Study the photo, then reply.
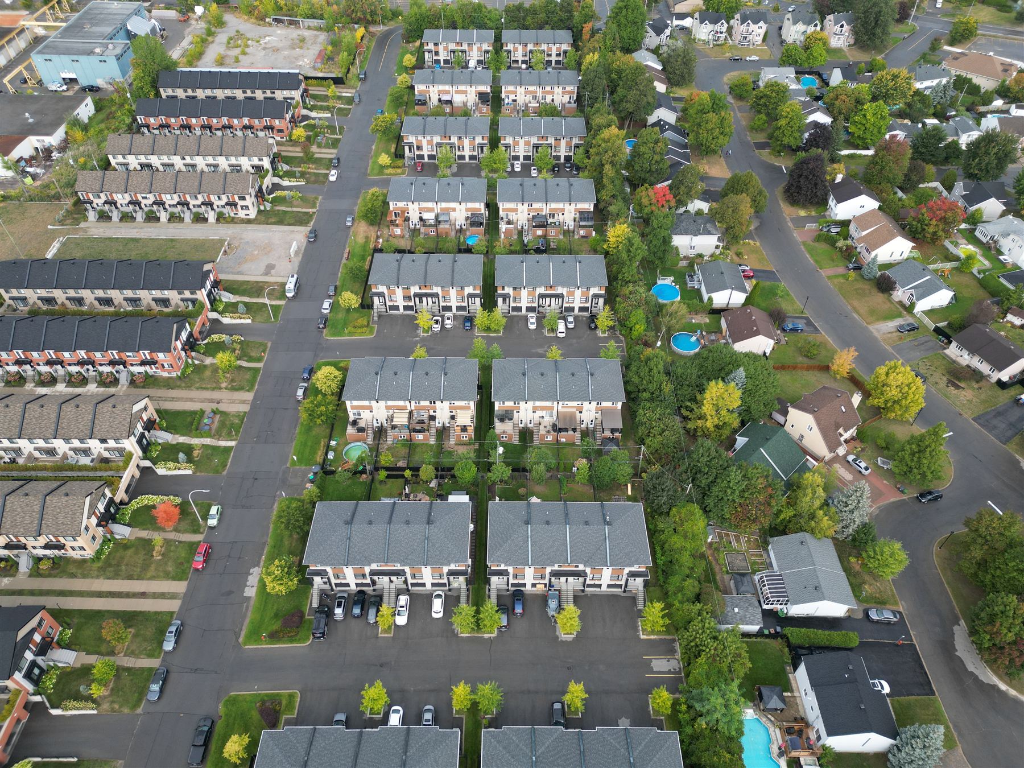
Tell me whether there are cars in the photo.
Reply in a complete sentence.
Yes, I can see a car in this picture.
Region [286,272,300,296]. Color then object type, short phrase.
white vehicle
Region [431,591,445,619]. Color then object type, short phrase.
white car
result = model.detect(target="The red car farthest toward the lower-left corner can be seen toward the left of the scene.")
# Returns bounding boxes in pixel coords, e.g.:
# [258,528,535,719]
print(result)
[193,543,212,570]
